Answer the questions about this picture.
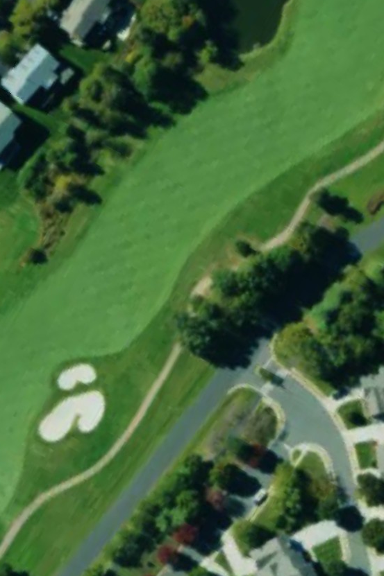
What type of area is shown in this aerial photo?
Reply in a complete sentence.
The picture captures a golf course.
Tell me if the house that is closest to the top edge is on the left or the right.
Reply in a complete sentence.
The house that is closest to the top edge sits on the left side.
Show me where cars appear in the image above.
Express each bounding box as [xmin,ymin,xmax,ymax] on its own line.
[47,9,60,19]
[255,490,266,503]
[277,429,287,442]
